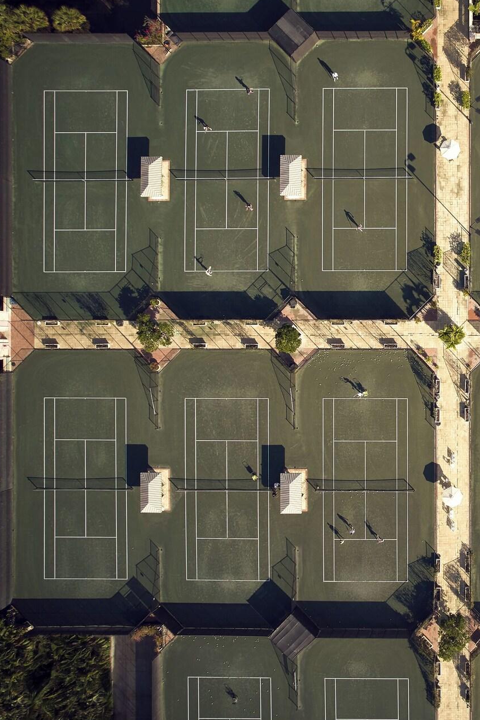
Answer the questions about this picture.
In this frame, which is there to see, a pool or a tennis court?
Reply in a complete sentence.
It is a tennis court that can be seen here.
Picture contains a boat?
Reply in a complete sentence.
No, no boat is visible in the scene.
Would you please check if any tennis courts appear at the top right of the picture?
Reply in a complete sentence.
Yes, a tennis court is visible at the top right of the picture.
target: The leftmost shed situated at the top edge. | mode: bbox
[269,8,317,61]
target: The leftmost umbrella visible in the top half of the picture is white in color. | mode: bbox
[440,141,461,162]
